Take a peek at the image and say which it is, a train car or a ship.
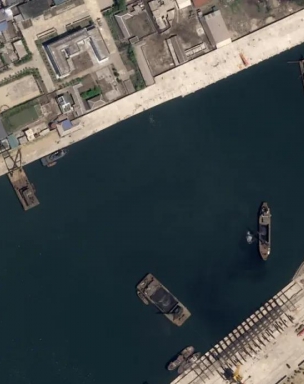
ship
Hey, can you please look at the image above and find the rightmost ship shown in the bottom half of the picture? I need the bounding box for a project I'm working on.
[258,202,270,261]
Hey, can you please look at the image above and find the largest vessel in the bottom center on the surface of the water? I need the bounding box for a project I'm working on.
[138,274,189,326]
